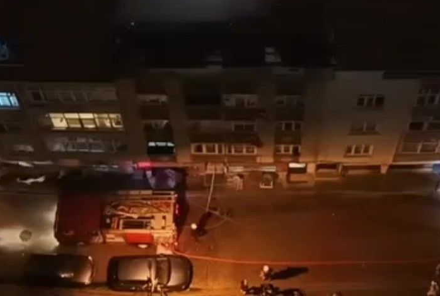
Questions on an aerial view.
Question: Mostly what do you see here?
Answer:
buildings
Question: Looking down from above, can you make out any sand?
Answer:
No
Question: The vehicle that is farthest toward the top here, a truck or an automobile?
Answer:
truck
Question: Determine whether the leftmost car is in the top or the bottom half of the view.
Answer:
bottom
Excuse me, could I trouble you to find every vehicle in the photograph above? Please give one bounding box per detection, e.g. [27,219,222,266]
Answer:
[56,192,189,258]
[104,253,193,296]
[21,251,102,295]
